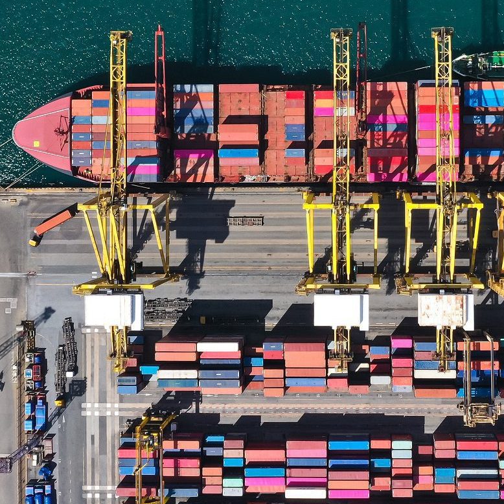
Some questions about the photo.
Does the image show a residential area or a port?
port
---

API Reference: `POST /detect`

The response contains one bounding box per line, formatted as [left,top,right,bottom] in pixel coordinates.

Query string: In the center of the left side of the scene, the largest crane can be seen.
[72,20,182,386]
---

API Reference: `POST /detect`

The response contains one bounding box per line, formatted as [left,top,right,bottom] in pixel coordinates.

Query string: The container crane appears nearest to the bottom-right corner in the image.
[456,325,500,433]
